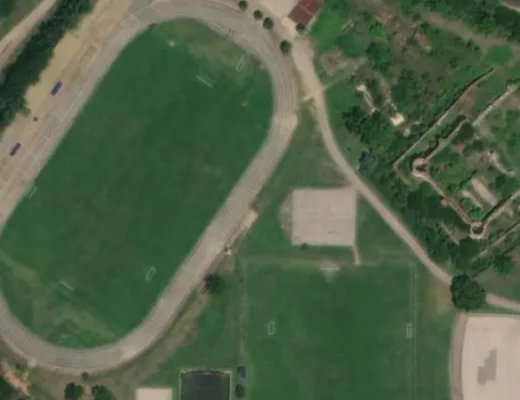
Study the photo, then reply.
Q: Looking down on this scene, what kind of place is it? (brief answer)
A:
sports ground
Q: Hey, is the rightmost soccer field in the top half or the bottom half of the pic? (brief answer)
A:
bottom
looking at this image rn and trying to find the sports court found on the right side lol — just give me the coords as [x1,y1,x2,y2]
[292,188,355,246]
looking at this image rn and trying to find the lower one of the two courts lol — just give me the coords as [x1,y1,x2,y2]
[182,372,230,400]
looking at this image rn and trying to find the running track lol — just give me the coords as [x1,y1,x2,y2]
[0,0,297,373]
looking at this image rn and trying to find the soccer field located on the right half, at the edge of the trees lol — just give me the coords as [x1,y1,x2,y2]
[244,261,414,400]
